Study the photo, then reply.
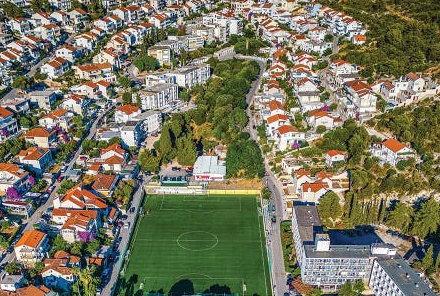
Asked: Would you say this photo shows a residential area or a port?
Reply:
residential area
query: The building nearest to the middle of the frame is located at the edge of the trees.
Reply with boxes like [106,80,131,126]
[193,159,226,186]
